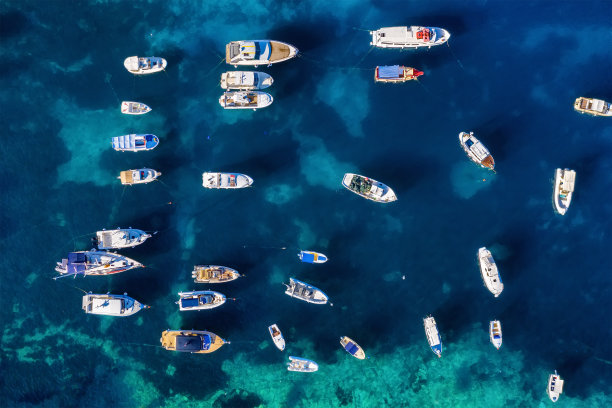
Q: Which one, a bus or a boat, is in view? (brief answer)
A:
boat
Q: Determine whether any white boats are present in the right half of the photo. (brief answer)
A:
Yes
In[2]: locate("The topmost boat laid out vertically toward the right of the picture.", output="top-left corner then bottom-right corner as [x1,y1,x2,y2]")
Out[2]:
[553,165,576,215]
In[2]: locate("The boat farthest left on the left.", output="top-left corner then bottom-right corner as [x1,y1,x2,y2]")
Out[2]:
[51,260,67,274]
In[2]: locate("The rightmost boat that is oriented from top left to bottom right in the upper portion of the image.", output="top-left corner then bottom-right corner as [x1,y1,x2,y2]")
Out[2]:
[458,131,496,170]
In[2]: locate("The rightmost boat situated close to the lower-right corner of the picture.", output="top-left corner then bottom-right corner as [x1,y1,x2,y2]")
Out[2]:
[546,371,564,403]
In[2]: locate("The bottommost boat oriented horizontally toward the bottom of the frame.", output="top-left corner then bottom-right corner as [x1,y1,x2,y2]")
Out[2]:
[287,356,318,372]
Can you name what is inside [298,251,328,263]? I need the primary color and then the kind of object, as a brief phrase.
blue boat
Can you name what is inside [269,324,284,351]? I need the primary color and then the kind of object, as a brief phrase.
white boat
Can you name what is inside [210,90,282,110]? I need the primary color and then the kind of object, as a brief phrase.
white boat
